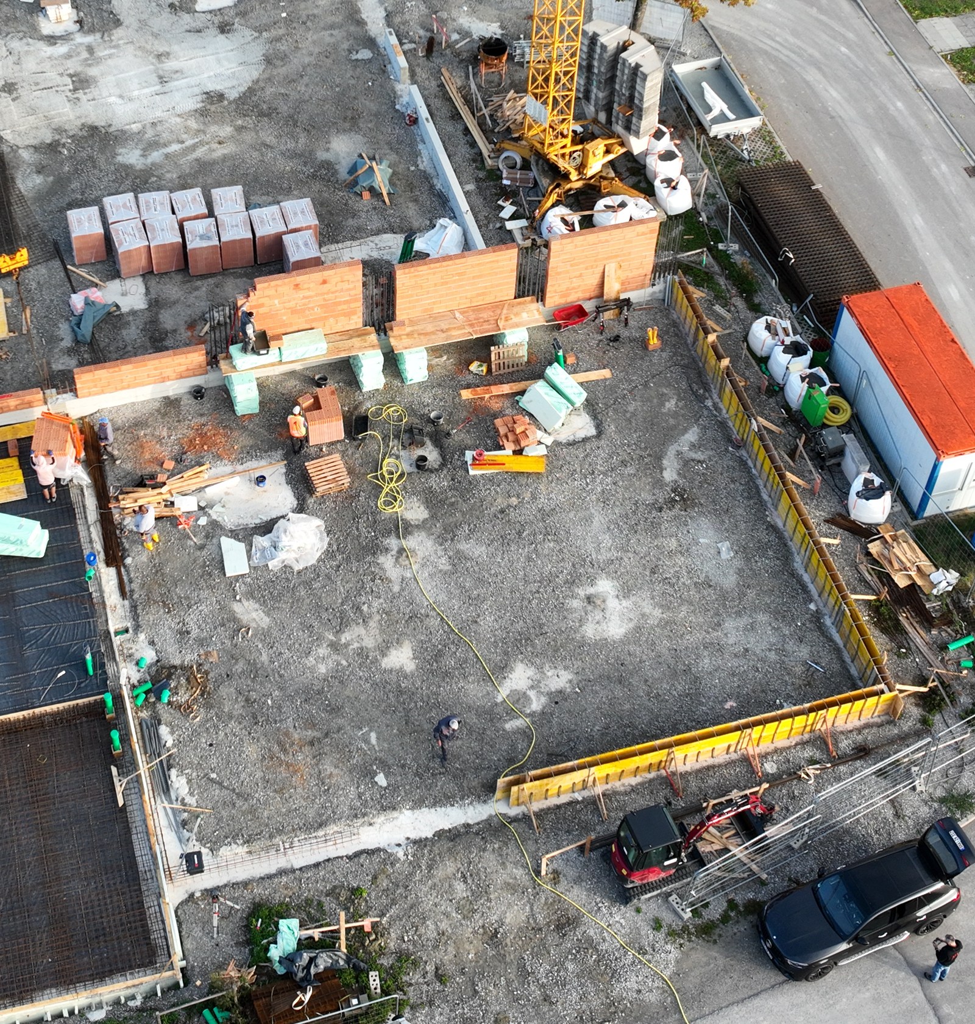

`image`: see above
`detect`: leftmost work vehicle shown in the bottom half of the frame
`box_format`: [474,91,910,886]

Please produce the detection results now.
[600,791,774,909]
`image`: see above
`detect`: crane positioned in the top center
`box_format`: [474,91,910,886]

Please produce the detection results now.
[489,0,641,233]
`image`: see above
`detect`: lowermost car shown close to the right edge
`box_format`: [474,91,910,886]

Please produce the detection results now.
[755,811,975,978]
